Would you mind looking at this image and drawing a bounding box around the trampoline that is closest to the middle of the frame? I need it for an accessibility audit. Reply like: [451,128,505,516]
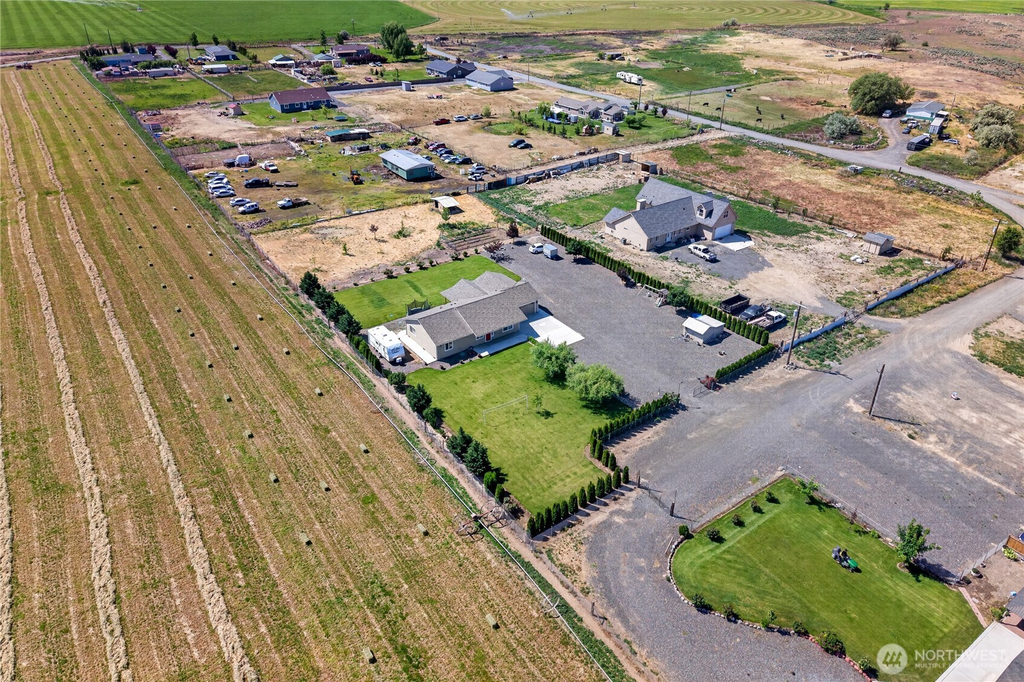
[404,291,430,312]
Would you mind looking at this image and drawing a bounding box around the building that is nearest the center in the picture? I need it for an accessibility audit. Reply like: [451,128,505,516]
[397,271,546,360]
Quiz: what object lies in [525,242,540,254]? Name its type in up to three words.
vehicle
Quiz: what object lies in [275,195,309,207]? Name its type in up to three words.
vehicle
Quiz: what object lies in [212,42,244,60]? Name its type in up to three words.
house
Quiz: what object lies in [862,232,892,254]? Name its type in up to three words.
shed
